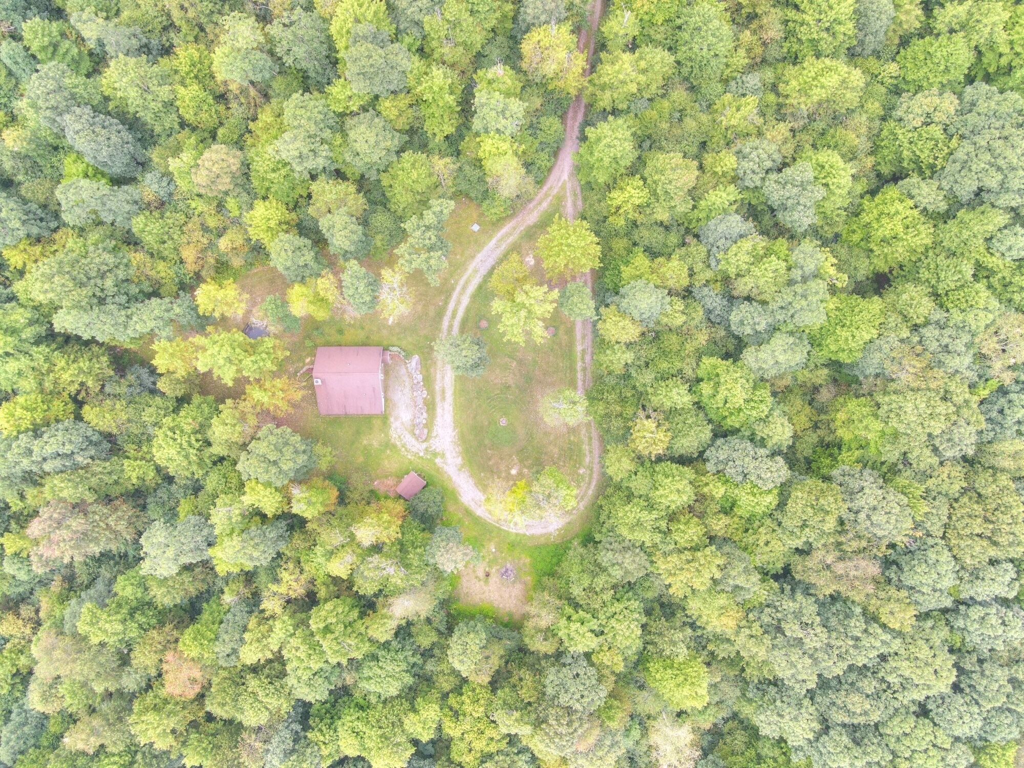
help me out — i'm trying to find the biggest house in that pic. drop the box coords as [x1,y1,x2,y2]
[312,345,393,415]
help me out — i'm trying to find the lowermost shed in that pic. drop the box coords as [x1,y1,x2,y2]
[396,469,427,498]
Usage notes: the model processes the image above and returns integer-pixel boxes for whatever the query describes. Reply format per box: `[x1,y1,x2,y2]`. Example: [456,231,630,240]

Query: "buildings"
[396,469,427,498]
[312,345,393,415]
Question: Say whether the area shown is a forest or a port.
forest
